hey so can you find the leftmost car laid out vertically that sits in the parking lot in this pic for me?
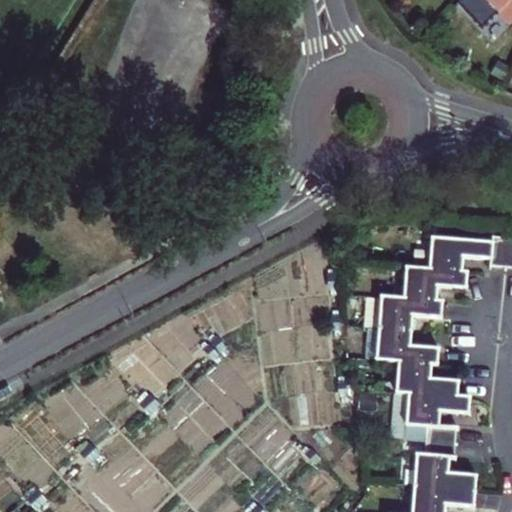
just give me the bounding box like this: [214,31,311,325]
[470,276,484,300]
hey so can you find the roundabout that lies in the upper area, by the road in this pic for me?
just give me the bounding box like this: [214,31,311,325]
[291,50,428,190]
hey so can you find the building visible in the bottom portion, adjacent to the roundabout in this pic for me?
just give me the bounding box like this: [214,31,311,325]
[376,236,496,428]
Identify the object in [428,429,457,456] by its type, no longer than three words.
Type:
building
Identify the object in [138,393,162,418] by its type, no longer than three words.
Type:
shed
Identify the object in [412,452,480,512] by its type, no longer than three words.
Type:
building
